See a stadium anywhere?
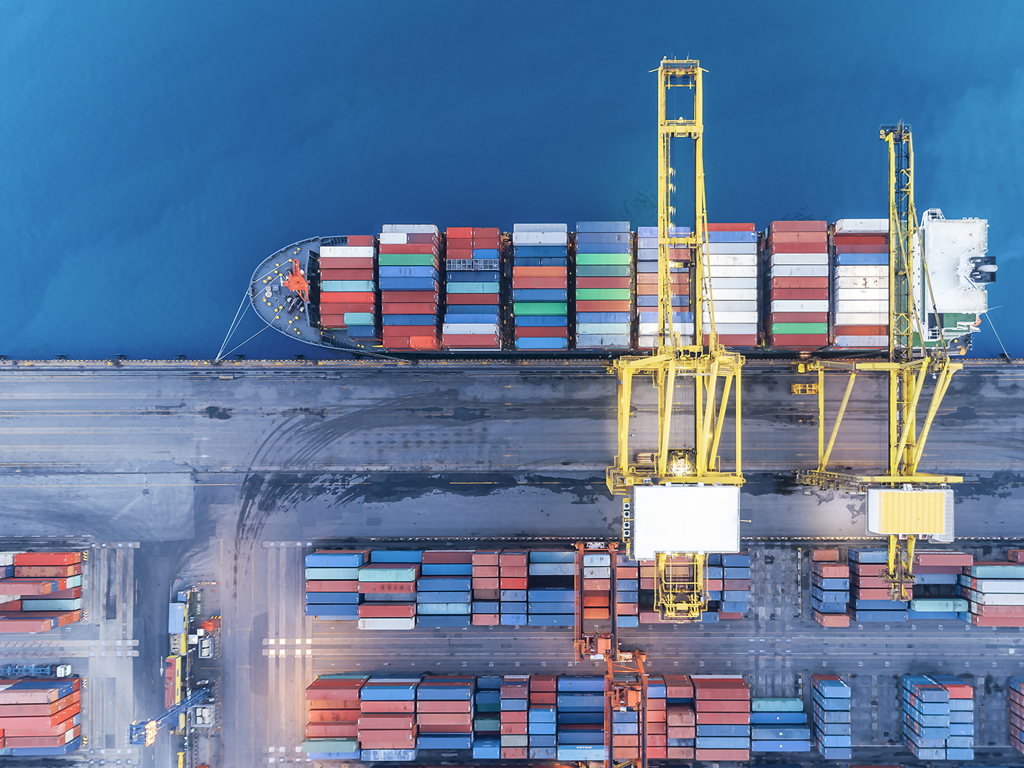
No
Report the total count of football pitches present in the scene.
0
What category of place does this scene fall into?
port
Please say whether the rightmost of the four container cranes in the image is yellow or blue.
yellow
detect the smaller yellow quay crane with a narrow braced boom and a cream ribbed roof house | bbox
[792,119,966,600]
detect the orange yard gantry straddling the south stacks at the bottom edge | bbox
[602,652,649,768]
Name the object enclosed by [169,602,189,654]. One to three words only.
building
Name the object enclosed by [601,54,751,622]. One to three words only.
container crane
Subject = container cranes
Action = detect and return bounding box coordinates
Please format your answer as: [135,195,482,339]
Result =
[602,652,649,768]
[601,54,751,622]
[792,119,966,600]
[573,542,621,665]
